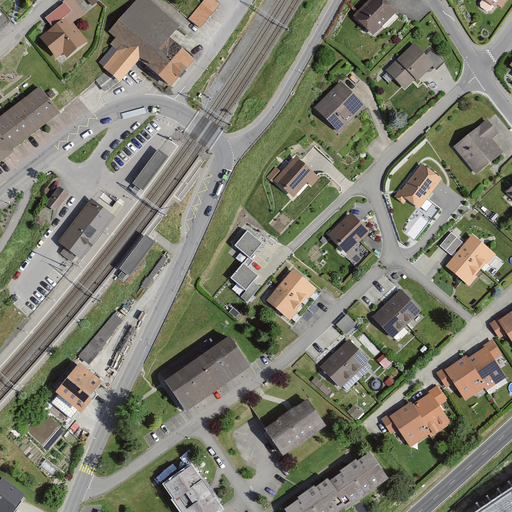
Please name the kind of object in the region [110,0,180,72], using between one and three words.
barn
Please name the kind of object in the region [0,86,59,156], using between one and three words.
house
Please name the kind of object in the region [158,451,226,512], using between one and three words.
building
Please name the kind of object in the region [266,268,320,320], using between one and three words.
house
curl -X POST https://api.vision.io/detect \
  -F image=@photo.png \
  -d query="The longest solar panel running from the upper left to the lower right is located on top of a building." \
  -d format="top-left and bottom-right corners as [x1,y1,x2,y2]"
[62,380,88,402]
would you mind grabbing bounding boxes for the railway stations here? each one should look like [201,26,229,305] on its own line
[58,198,114,262]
